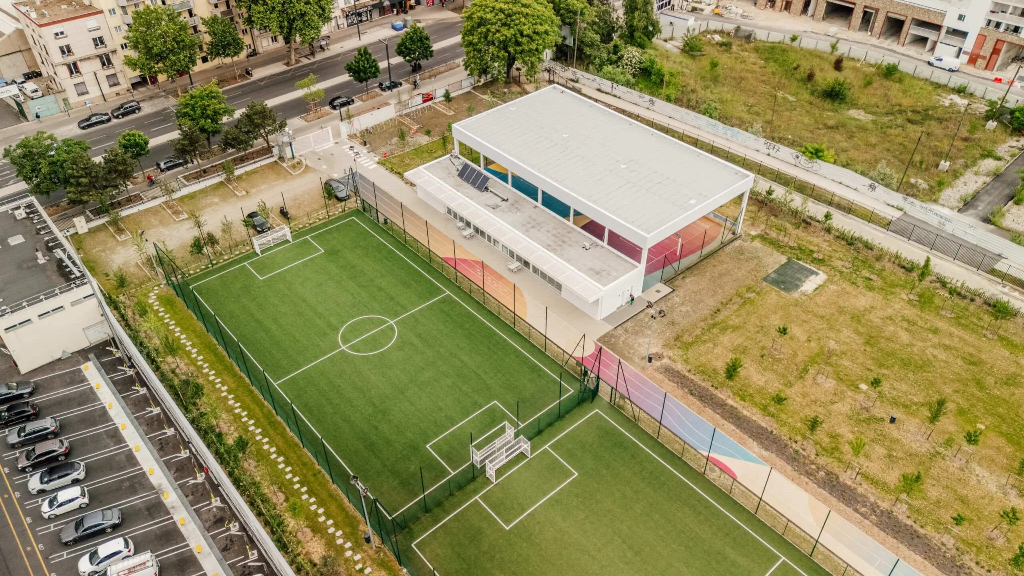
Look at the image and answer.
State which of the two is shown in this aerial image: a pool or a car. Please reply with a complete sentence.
Looking from above, you can make out a car.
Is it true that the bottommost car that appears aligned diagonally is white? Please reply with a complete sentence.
Yes, white is the color of the bottommost car that appears aligned diagonally.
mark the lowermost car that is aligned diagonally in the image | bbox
[73,530,140,576]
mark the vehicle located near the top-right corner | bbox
[927,57,963,74]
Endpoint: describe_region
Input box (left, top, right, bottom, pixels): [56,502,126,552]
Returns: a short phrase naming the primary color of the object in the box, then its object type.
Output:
gray car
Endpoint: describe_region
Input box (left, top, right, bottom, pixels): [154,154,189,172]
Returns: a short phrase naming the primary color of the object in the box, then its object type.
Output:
gray car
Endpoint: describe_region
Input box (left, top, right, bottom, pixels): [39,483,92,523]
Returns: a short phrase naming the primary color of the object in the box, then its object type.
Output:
white car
